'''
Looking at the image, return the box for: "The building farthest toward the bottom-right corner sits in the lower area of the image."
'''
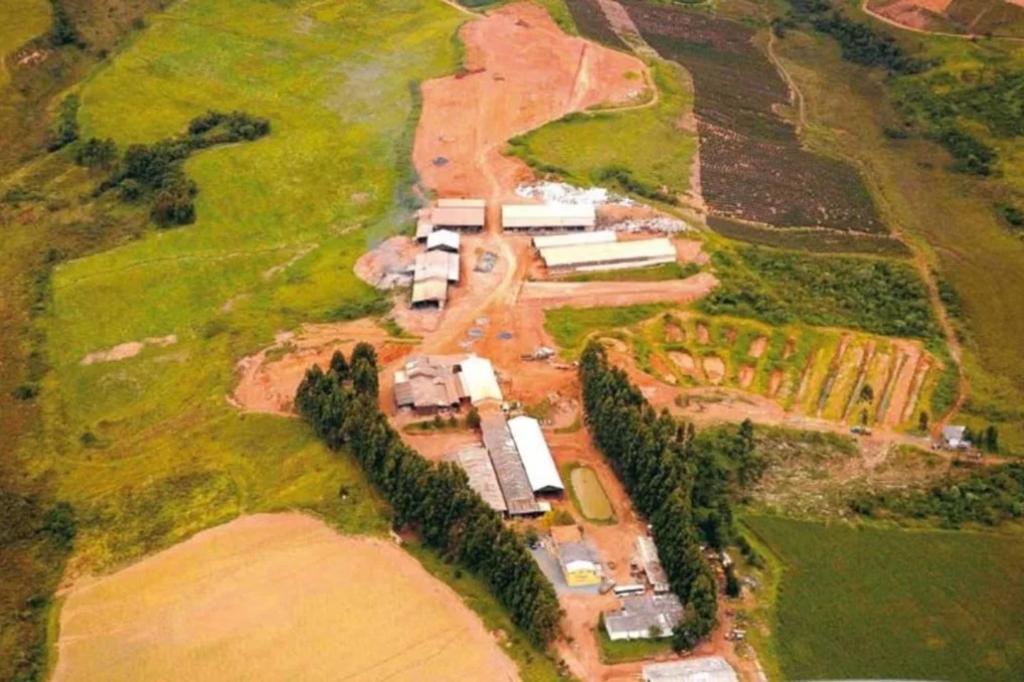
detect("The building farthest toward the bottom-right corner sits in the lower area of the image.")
[940,426,973,451]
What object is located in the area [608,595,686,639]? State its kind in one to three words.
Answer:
building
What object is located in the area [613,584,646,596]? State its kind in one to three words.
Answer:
vehicle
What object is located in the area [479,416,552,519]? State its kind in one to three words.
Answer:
shed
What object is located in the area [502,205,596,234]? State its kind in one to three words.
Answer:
barn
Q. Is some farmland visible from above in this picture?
Yes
